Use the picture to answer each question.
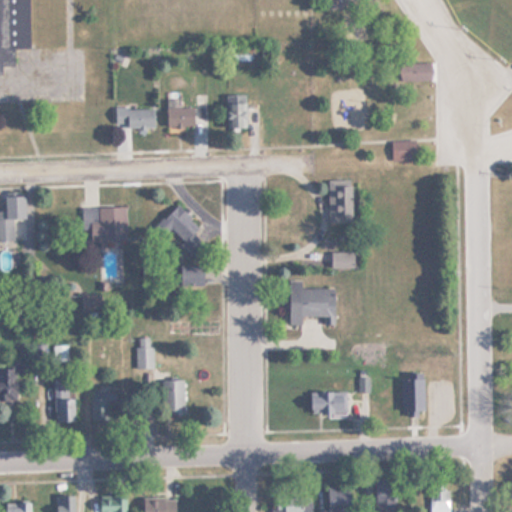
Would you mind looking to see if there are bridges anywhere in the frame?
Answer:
No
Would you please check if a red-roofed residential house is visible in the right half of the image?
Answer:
No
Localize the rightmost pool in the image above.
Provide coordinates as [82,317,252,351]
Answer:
[100,251,118,280]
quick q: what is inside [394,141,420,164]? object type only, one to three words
building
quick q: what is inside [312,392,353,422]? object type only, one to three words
house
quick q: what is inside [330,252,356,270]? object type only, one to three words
building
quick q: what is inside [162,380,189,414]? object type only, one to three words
house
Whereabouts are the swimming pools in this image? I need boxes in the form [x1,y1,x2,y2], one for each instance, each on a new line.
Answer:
[100,251,118,280]
[0,248,14,272]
